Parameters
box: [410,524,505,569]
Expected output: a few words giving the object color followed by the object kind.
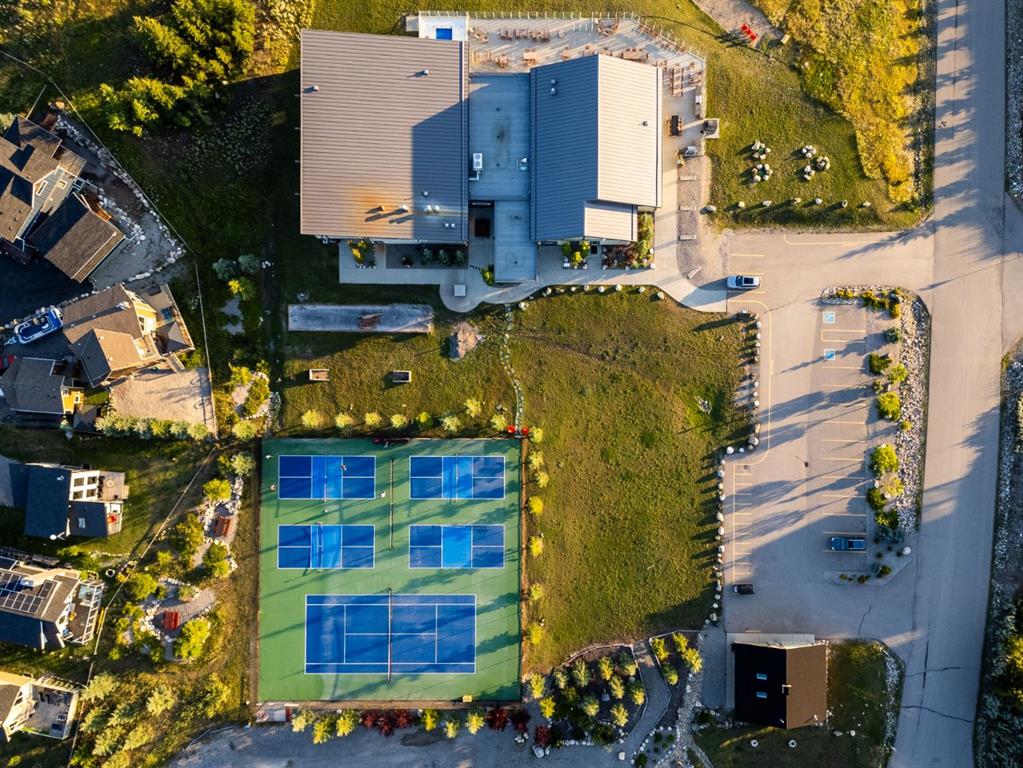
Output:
blue sports court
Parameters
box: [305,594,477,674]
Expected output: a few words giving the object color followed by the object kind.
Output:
blue tennis court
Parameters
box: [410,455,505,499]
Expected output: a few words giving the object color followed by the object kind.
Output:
blue sports court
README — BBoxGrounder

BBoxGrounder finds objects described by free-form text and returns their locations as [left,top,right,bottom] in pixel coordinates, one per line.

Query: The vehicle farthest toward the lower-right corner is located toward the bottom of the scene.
[827,535,868,553]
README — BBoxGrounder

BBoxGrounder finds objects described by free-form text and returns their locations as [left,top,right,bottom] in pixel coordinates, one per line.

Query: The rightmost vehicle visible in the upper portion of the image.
[726,274,762,291]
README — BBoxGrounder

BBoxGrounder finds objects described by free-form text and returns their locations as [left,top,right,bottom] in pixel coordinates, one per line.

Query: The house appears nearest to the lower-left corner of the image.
[0,665,92,741]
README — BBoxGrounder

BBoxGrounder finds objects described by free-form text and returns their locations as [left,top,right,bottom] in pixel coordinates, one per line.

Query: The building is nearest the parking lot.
[732,636,827,729]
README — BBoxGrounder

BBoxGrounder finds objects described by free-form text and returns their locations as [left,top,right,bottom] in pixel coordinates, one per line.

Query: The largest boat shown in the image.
[14,309,63,341]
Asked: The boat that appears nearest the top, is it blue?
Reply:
Yes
